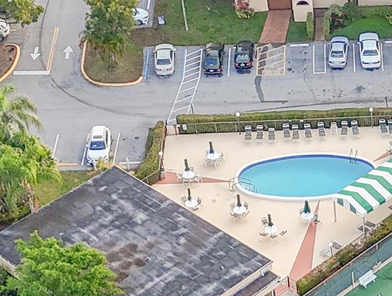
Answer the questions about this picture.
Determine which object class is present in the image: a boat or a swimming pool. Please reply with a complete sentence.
The one in the frame is a swimming pool.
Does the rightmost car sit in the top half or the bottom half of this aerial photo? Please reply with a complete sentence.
The rightmost car sits in the top half of the picture.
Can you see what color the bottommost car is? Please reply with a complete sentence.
The bottommost car looks white in the image.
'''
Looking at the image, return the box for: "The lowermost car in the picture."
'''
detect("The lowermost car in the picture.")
[84,124,112,161]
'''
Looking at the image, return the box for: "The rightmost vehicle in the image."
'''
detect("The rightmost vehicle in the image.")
[357,36,381,68]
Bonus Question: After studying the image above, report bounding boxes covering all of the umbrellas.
[209,141,216,156]
[302,199,311,215]
[267,214,274,229]
[184,159,191,174]
[235,193,243,209]
[186,187,195,208]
